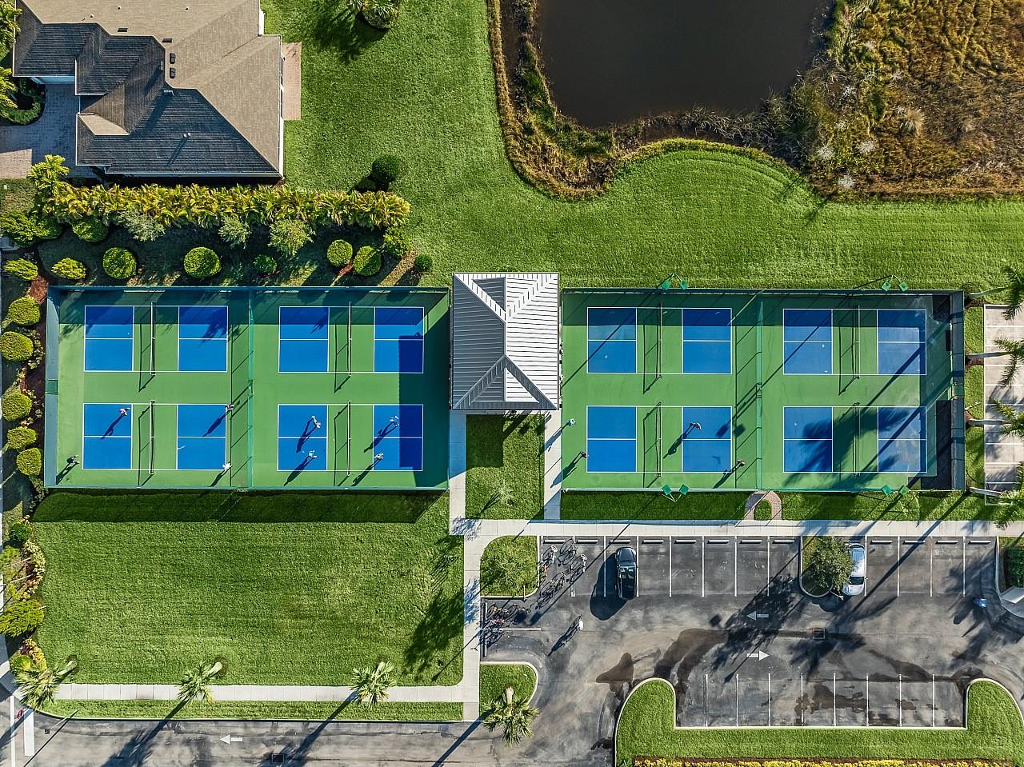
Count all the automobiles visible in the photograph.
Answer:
2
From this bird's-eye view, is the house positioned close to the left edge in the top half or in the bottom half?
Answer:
top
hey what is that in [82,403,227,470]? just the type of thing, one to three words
sports court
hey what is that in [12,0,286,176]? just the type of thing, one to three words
house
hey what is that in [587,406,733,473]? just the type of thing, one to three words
sports court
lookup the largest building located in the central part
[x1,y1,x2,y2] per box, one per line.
[452,272,560,411]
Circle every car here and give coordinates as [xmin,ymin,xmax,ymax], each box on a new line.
[614,547,639,599]
[842,543,868,595]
